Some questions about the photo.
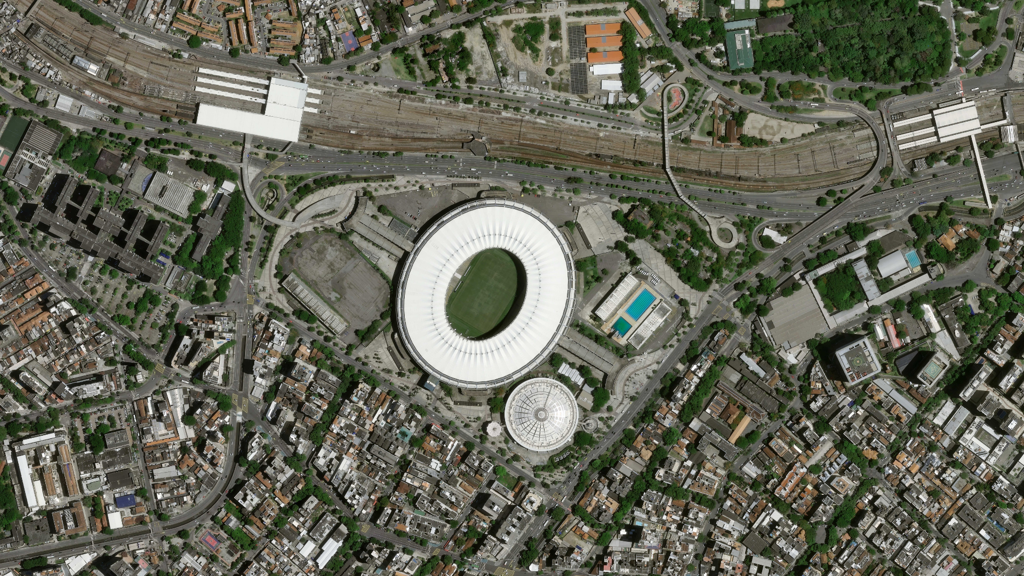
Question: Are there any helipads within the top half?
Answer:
No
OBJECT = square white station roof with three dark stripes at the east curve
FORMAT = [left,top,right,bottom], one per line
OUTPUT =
[892,100,1007,149]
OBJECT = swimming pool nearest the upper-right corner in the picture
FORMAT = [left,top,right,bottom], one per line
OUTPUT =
[905,250,921,268]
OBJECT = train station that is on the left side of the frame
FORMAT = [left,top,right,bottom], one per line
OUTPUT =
[190,67,326,142]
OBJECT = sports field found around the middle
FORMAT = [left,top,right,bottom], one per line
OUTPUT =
[445,248,527,340]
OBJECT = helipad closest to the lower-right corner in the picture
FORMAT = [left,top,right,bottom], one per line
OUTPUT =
[924,361,942,377]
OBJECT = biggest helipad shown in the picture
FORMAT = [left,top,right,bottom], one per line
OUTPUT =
[846,346,873,379]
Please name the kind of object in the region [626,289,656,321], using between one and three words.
swimming pool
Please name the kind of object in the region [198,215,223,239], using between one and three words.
building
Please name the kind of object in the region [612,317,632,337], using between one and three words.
swimming pool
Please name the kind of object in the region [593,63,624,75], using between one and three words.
shed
